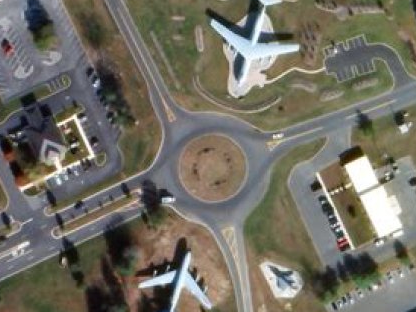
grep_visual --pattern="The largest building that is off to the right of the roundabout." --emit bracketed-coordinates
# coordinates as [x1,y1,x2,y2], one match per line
[360,186,404,238]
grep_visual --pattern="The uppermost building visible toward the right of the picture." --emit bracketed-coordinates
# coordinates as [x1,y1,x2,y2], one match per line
[345,156,379,193]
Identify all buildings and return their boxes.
[345,156,379,193]
[22,102,67,165]
[360,186,404,238]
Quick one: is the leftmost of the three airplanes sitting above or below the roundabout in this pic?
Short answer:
below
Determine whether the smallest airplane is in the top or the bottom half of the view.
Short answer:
bottom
